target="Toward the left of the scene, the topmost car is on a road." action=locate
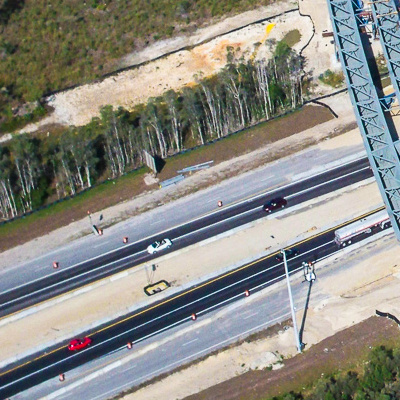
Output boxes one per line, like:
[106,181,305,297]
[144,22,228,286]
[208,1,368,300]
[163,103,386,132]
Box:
[144,236,170,251]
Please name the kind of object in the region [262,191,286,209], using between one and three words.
car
